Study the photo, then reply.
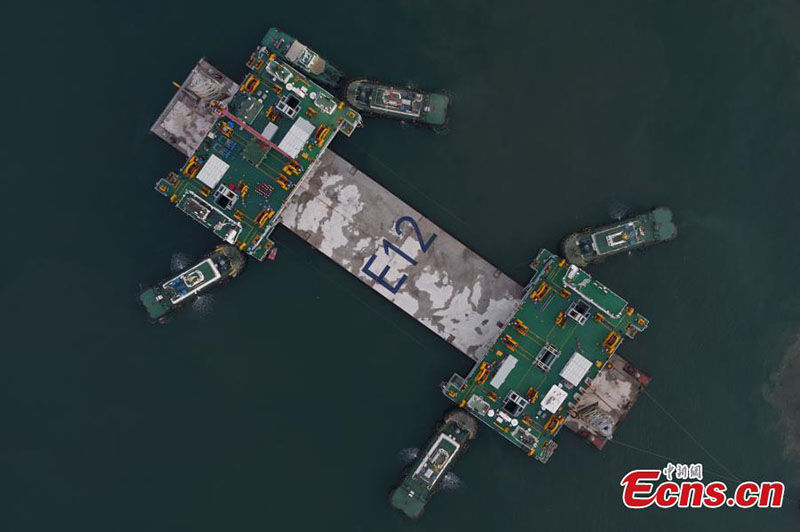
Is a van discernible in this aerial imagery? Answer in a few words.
No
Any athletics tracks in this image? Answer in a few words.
No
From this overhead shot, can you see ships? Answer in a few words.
Yes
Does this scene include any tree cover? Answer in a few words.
No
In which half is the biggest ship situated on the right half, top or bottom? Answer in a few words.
bottom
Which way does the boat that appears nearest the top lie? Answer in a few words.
diagonally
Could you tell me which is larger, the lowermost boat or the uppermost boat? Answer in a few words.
the lowermost boat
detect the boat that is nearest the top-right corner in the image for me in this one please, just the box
[558,206,679,265]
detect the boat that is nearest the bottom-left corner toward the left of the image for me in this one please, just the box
[138,246,248,320]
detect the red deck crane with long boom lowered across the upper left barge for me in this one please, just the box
[211,98,299,162]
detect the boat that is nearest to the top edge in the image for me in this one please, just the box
[261,26,342,89]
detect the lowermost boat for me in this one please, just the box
[389,407,477,520]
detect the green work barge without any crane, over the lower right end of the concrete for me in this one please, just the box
[443,246,652,466]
